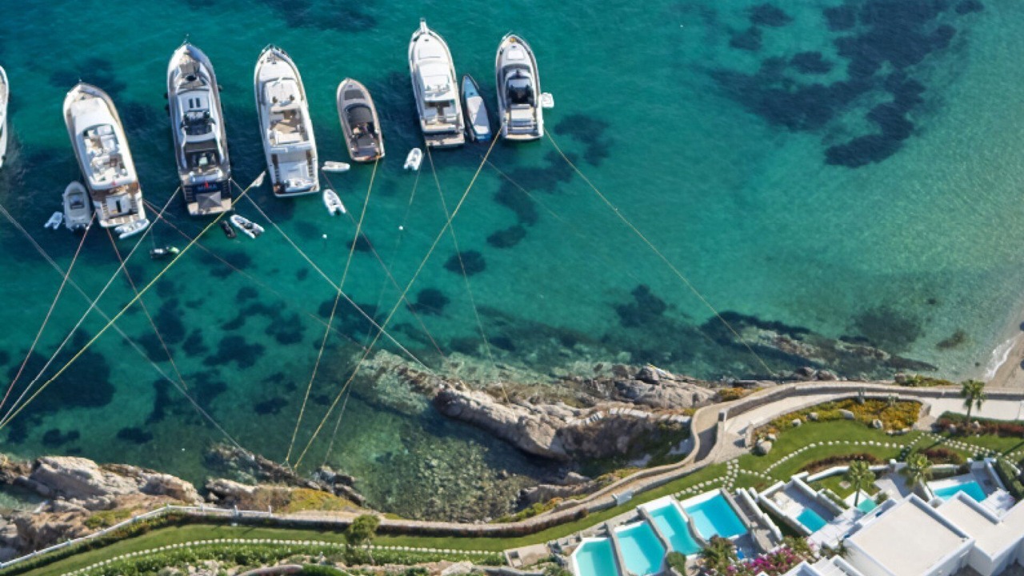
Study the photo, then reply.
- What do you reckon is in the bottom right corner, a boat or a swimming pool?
swimming pool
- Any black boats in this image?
Yes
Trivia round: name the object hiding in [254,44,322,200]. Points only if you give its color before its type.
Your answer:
white boat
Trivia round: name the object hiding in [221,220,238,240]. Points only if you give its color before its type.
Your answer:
black boat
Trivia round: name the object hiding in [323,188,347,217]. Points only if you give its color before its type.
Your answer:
white boat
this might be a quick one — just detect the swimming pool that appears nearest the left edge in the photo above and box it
[571,536,620,576]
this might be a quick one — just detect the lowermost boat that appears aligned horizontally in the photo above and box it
[151,246,179,258]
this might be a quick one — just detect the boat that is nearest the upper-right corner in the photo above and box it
[541,91,553,108]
